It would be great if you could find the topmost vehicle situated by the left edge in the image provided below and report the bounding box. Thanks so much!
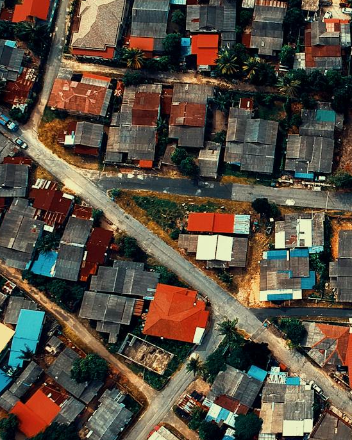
[0,113,15,132]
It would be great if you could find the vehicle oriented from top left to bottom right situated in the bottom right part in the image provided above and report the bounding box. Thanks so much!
[311,384,327,398]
